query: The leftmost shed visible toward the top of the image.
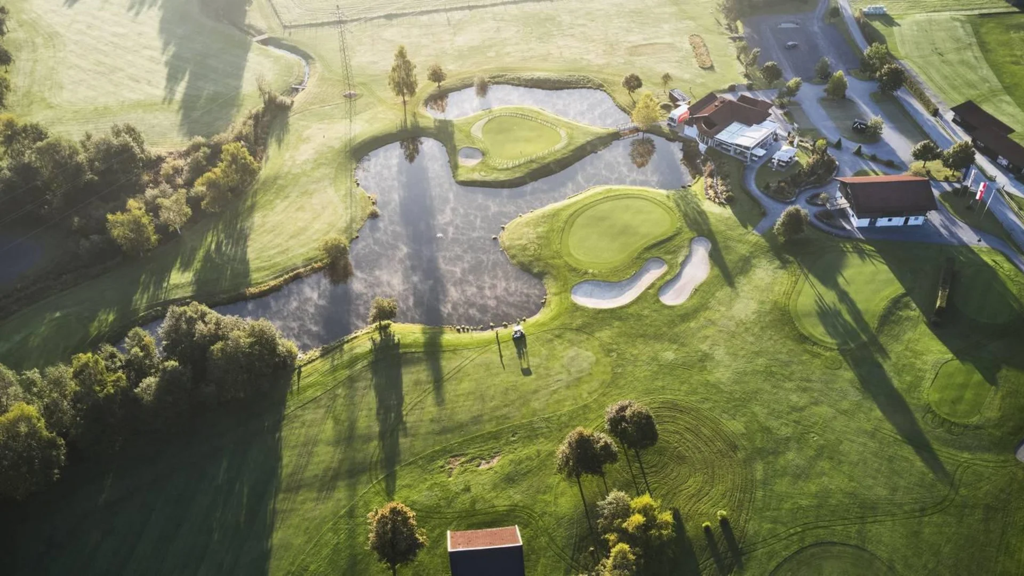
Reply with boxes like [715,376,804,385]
[669,88,697,106]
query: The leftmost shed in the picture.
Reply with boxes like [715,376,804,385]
[446,524,524,576]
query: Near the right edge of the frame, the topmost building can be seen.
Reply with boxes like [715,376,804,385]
[950,97,1024,143]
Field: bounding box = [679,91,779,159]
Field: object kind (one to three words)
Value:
building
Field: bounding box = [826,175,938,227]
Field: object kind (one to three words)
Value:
barn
